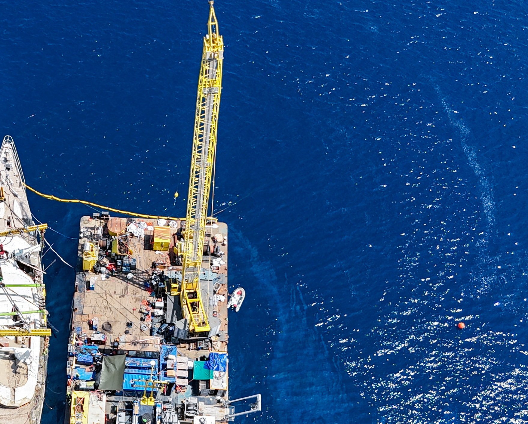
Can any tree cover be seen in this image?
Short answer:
No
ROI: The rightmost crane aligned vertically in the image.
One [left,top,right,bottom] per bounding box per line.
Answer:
[165,0,222,342]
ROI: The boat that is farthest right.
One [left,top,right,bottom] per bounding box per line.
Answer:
[227,287,246,311]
